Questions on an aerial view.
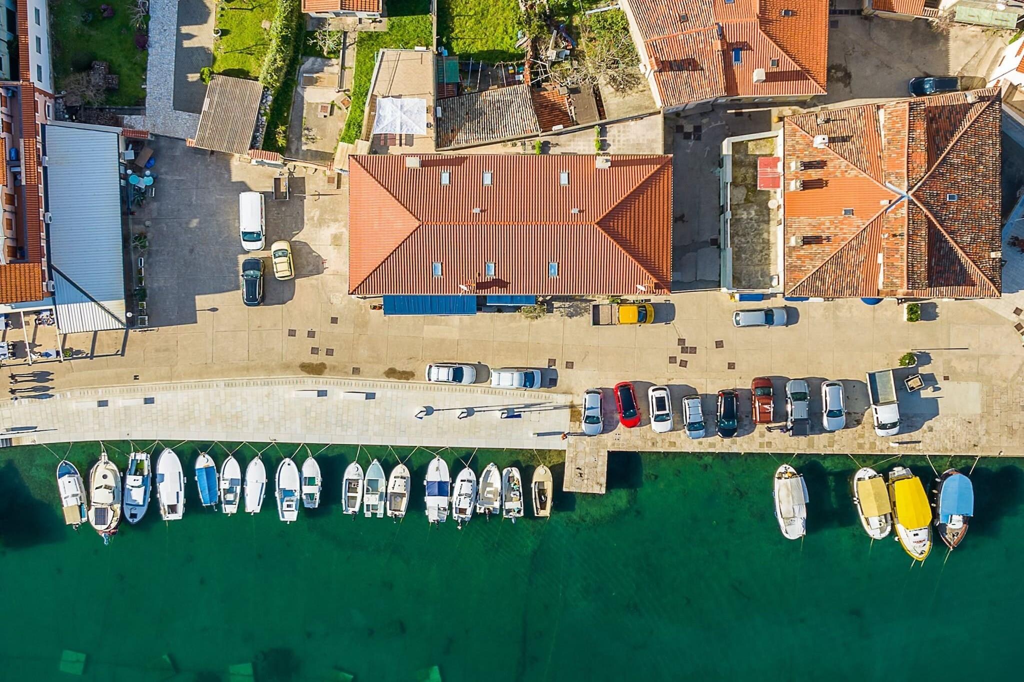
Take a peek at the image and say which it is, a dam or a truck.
truck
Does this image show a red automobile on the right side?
Yes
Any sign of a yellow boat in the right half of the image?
Yes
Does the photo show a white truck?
Yes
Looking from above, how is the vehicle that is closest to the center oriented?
from left to right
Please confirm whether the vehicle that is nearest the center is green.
No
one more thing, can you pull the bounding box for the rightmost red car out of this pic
[749,376,776,425]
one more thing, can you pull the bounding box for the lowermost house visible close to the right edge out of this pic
[773,86,1006,304]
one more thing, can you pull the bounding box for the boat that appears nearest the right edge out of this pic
[934,469,977,551]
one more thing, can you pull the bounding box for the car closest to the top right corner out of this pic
[907,72,961,97]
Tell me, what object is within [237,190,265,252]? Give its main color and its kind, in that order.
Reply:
white van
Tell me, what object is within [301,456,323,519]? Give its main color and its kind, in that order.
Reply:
white boat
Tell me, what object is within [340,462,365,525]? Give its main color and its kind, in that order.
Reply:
white boat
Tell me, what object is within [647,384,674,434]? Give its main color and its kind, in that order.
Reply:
white car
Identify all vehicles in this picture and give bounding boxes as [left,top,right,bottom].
[866,367,902,437]
[749,376,776,425]
[491,367,541,391]
[237,190,265,252]
[239,257,265,307]
[732,305,786,329]
[820,380,847,431]
[680,394,706,440]
[647,384,674,434]
[581,388,606,436]
[426,362,476,386]
[613,380,641,429]
[716,388,740,439]
[784,378,811,437]
[591,303,653,327]
[907,72,961,97]
[271,240,296,281]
